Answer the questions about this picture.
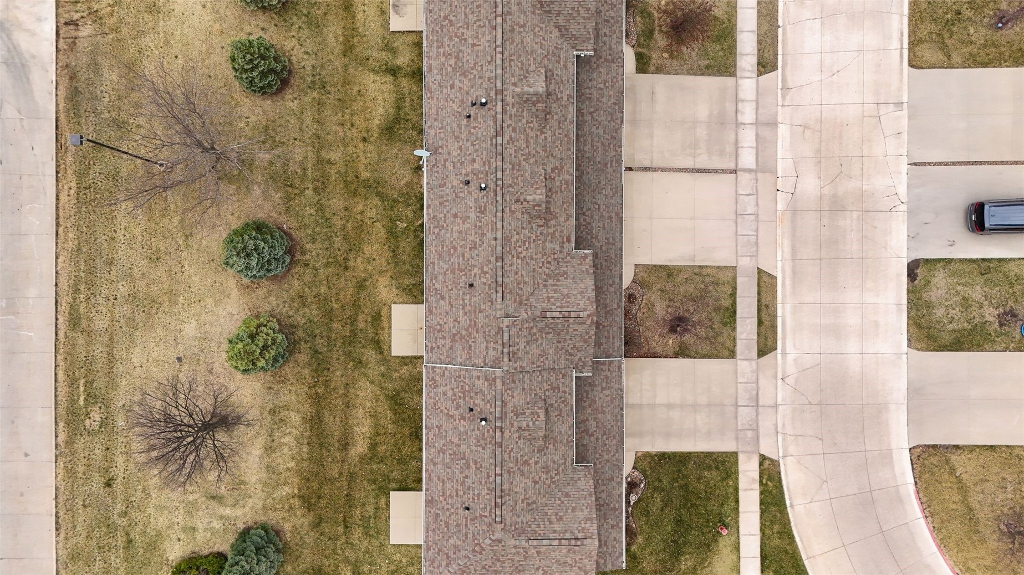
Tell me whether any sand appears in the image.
No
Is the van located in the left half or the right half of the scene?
right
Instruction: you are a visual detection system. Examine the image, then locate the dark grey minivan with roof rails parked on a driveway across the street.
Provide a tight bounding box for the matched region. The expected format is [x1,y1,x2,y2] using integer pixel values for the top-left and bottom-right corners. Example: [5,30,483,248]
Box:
[965,197,1024,235]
